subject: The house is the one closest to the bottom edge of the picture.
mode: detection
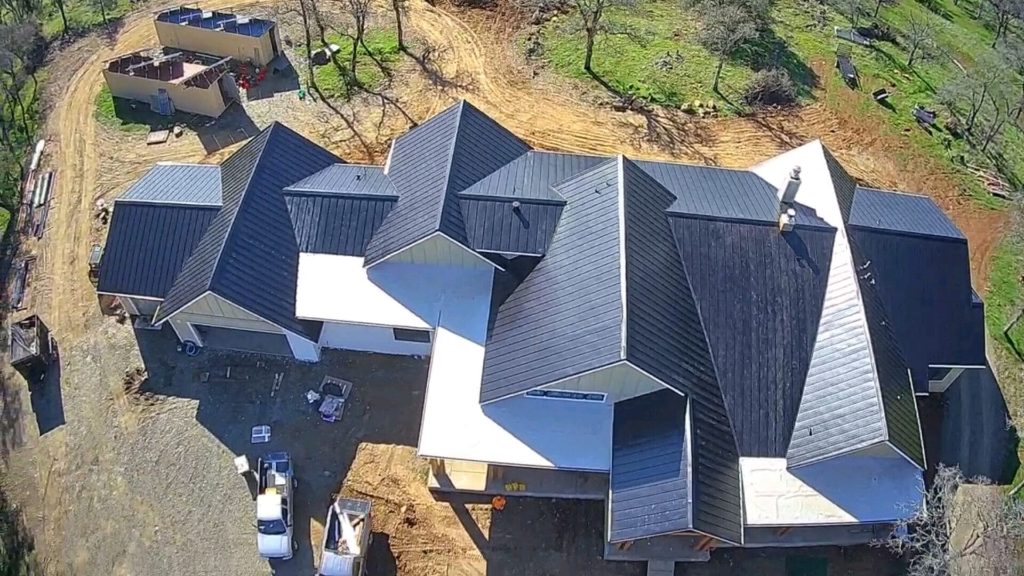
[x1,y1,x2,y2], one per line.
[95,99,989,576]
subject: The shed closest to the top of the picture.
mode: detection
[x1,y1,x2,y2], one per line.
[153,2,283,64]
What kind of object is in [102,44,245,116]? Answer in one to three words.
shed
